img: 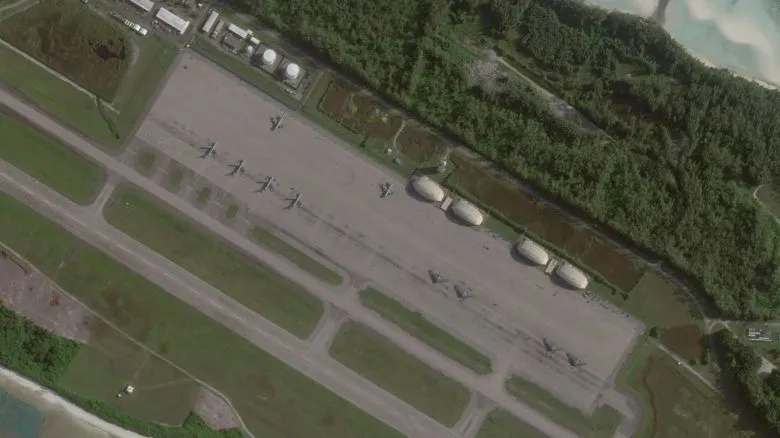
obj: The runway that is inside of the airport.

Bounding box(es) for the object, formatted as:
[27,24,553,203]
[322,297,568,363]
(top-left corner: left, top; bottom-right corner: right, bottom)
[0,158,452,438]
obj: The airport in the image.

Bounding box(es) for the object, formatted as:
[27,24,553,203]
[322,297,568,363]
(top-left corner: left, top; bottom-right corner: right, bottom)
[0,46,648,438]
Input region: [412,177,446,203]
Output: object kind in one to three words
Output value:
hangar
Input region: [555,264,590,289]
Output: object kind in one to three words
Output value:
hangar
